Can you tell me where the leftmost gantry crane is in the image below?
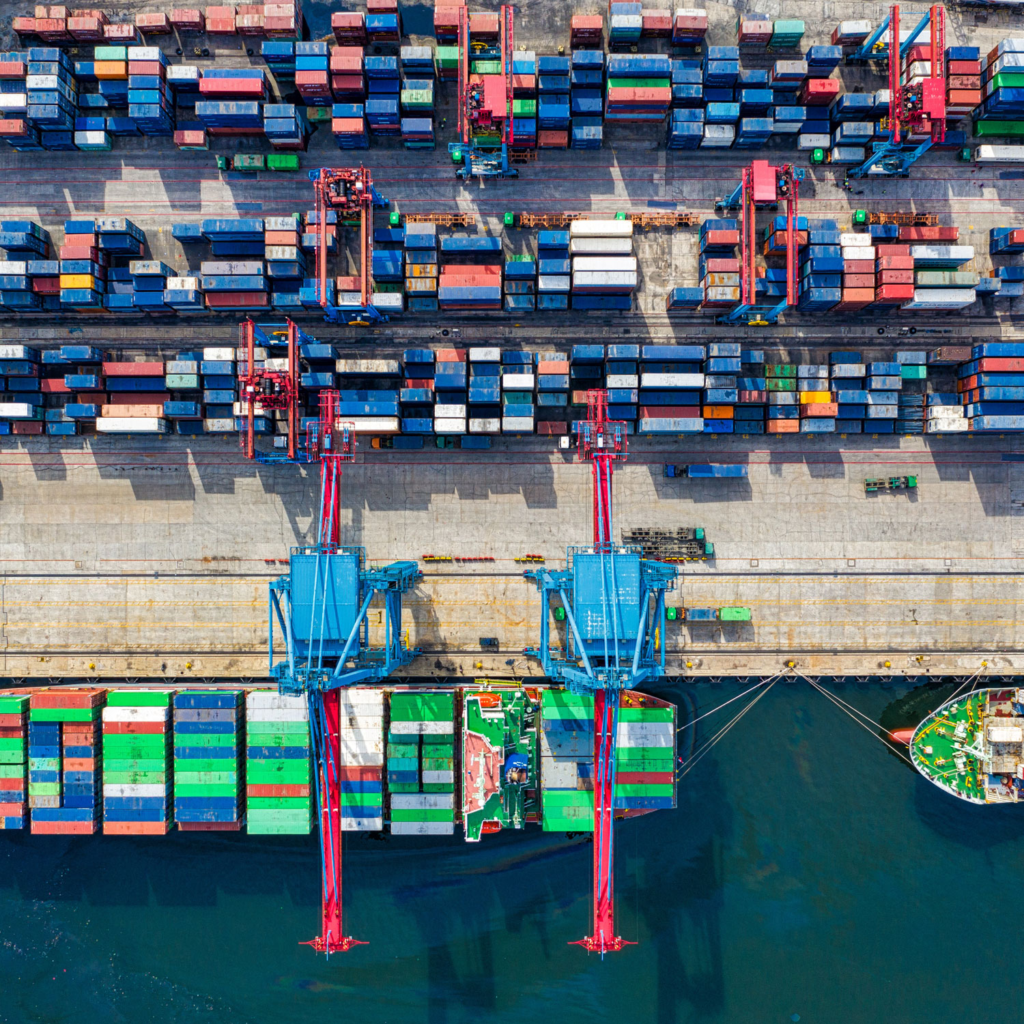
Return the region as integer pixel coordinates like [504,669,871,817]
[235,320,321,469]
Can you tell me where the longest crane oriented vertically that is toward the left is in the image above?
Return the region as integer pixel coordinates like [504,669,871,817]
[264,389,425,970]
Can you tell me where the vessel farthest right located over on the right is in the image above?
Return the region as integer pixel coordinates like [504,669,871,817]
[893,682,1024,804]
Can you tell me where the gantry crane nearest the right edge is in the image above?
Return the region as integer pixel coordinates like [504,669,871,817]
[847,4,946,178]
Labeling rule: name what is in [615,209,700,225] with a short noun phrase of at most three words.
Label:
vehicle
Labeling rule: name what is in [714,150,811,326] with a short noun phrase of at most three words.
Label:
container crane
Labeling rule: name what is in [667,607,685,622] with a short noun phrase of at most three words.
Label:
vehicle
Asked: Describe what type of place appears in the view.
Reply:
port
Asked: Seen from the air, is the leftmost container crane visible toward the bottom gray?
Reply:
No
